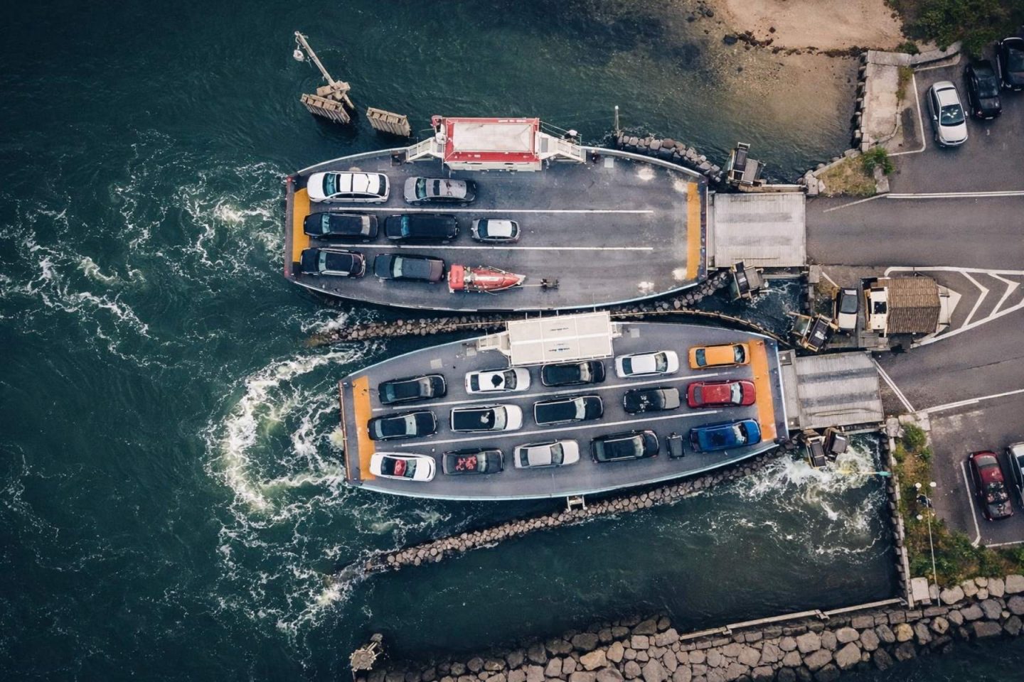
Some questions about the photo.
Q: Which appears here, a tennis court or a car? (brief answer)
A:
car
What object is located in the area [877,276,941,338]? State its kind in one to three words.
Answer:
shed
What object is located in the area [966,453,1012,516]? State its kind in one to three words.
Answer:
car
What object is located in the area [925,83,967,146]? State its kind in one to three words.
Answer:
car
